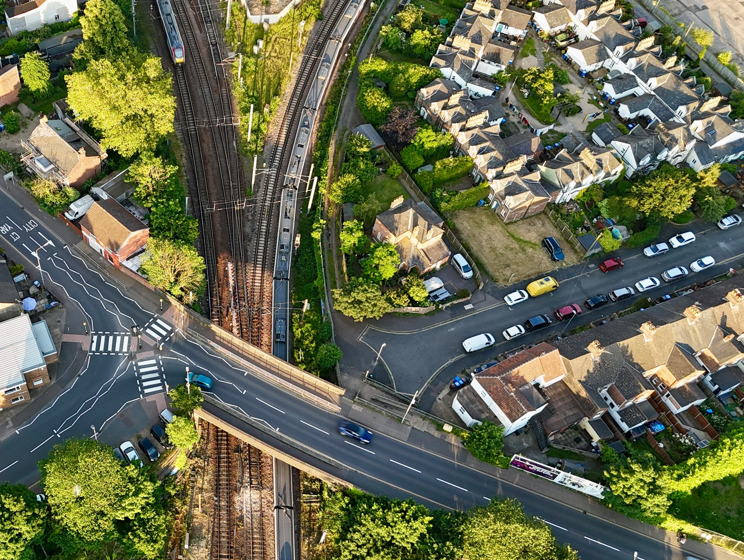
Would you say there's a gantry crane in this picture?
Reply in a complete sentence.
No, no gantry crane is visible in the view.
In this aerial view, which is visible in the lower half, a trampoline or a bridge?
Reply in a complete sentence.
The one visible in the lower half is a bridge.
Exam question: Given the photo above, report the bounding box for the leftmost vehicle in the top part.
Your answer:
[65,194,94,221]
